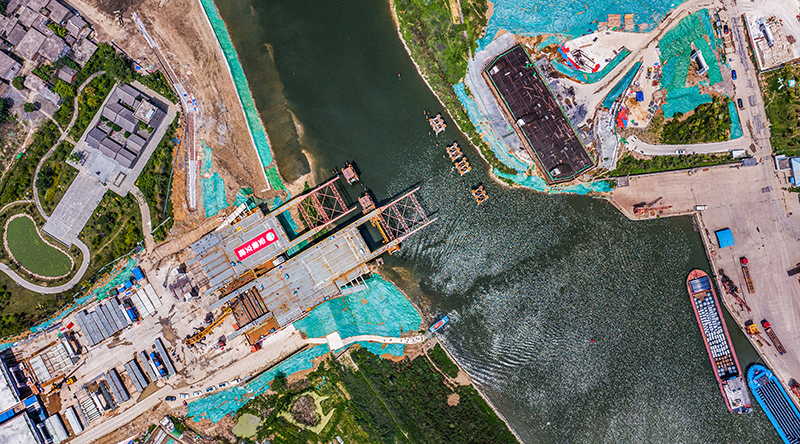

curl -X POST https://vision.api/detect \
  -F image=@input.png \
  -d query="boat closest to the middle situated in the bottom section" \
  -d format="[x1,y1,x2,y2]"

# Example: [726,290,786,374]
[430,317,449,333]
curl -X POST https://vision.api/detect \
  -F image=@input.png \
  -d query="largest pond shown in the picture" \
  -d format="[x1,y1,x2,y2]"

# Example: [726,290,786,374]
[5,213,73,278]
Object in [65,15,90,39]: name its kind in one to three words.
house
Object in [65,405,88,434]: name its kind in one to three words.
shed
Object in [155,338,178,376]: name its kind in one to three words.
shed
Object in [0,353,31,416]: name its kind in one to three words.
building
